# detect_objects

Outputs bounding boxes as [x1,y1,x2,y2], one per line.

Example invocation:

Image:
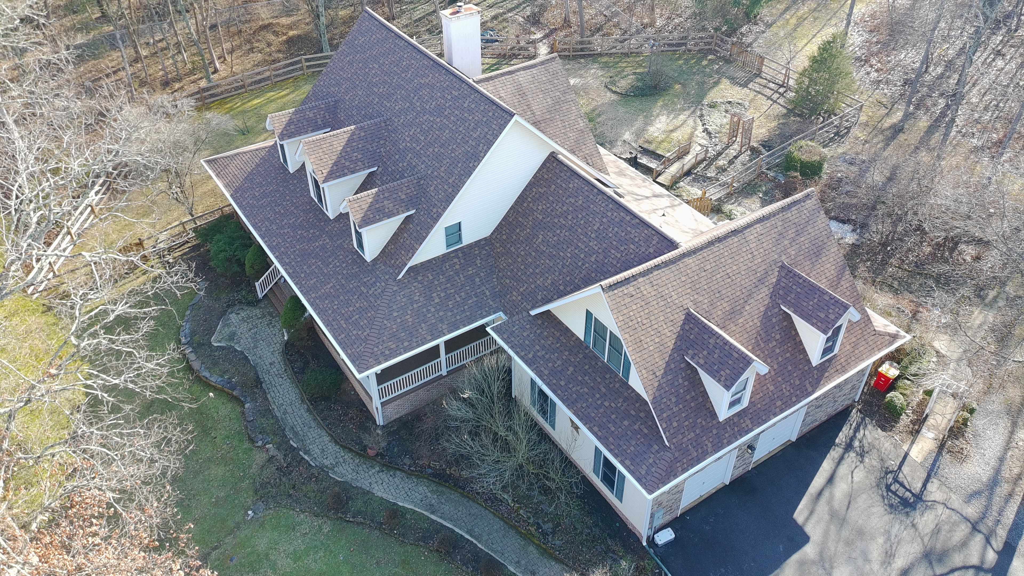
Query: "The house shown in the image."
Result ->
[197,0,917,548]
